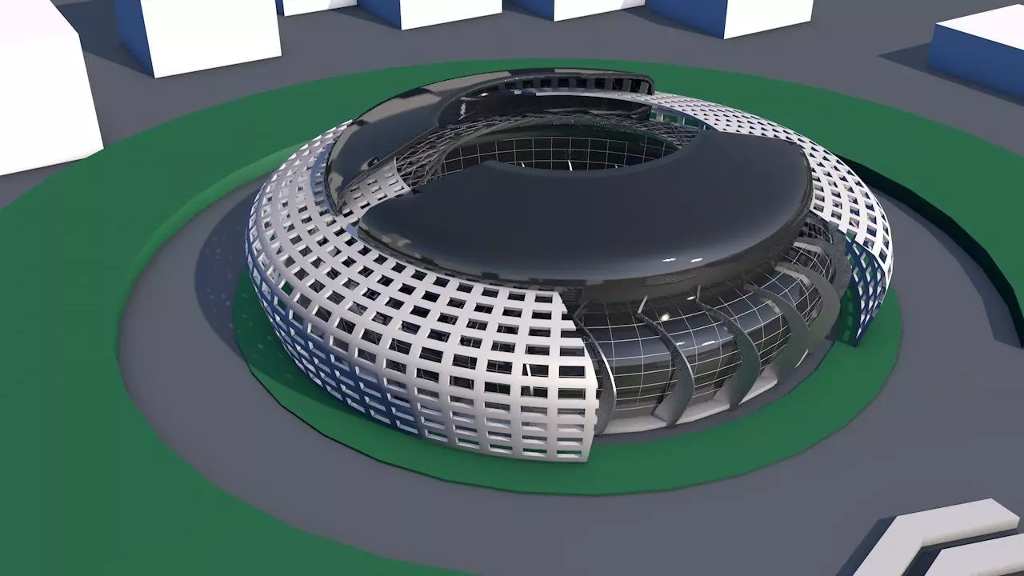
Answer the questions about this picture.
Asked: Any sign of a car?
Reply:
No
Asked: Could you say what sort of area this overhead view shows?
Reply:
sports ground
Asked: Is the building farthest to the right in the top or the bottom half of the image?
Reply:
top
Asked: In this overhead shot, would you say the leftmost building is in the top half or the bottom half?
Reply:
top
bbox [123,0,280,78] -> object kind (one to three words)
building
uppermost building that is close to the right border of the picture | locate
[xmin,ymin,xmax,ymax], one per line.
[928,5,1024,100]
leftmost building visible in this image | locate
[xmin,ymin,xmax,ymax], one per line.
[0,0,103,176]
